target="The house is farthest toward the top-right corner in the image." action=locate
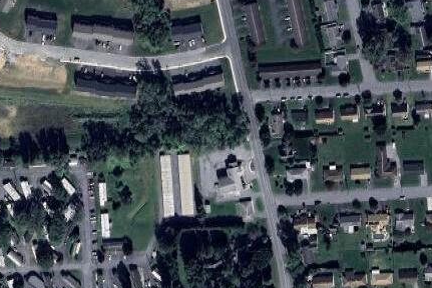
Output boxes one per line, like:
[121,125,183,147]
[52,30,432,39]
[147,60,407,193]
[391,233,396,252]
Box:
[405,0,424,22]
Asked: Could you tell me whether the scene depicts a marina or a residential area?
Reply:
residential area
